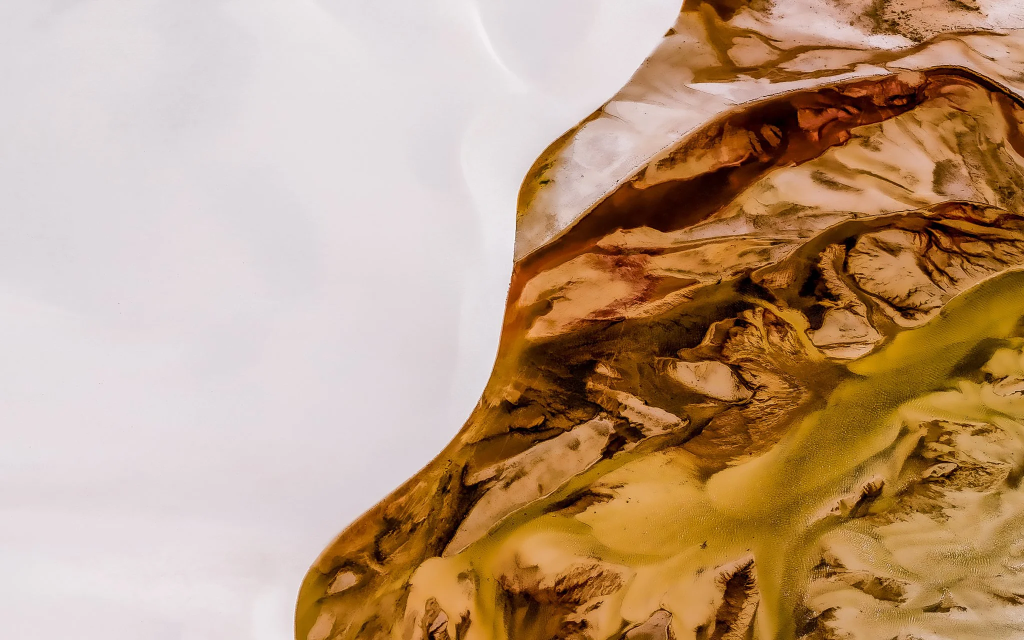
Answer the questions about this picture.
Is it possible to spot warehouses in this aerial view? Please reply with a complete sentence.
No, there is no warehouse in the image.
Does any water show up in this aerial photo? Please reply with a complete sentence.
Yes, some water is visible.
